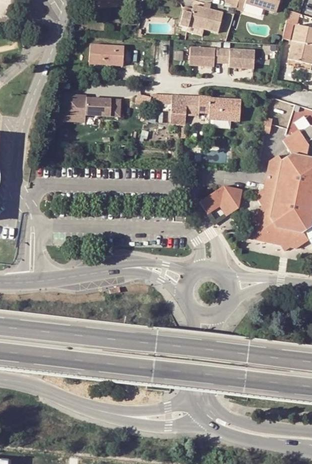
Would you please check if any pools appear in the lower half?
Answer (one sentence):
No, I can find no pool in the lower half.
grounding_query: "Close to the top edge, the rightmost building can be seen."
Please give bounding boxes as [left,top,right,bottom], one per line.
[283,10,312,69]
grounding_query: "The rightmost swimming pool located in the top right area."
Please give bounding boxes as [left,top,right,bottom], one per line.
[246,21,272,37]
